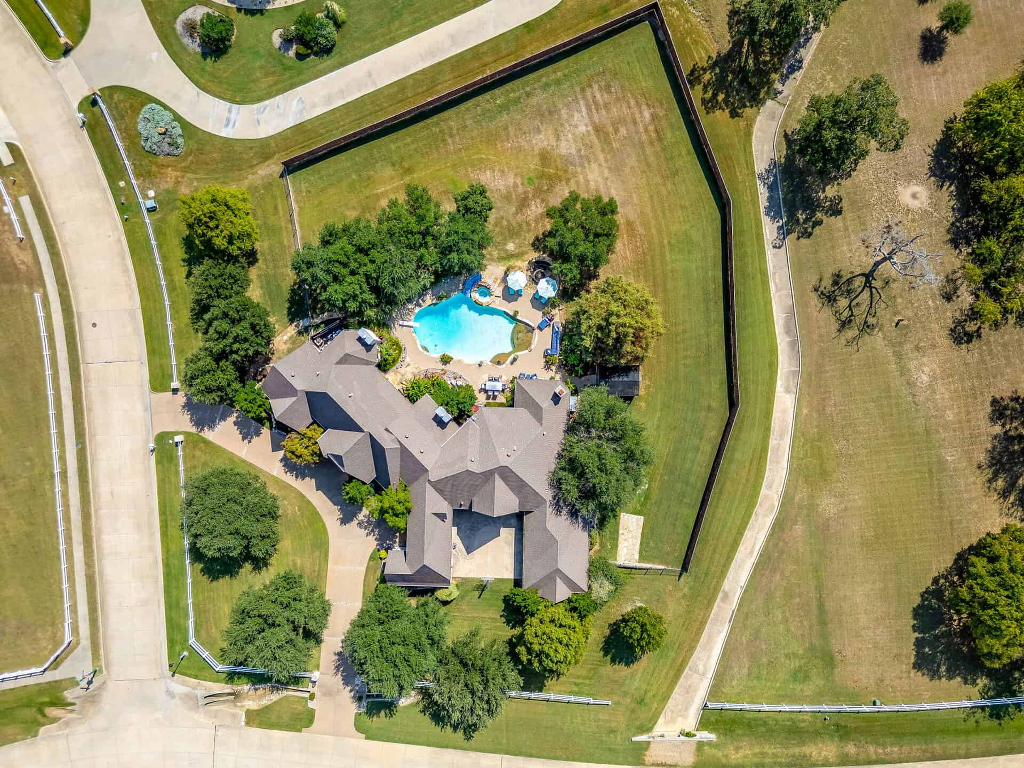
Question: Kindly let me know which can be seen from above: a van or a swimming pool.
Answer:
swimming pool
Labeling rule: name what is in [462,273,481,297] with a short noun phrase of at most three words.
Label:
swimming pool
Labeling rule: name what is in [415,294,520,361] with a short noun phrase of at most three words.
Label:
swimming pool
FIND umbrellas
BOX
[507,270,527,291]
[538,278,557,298]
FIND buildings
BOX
[600,364,640,397]
[262,323,589,603]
